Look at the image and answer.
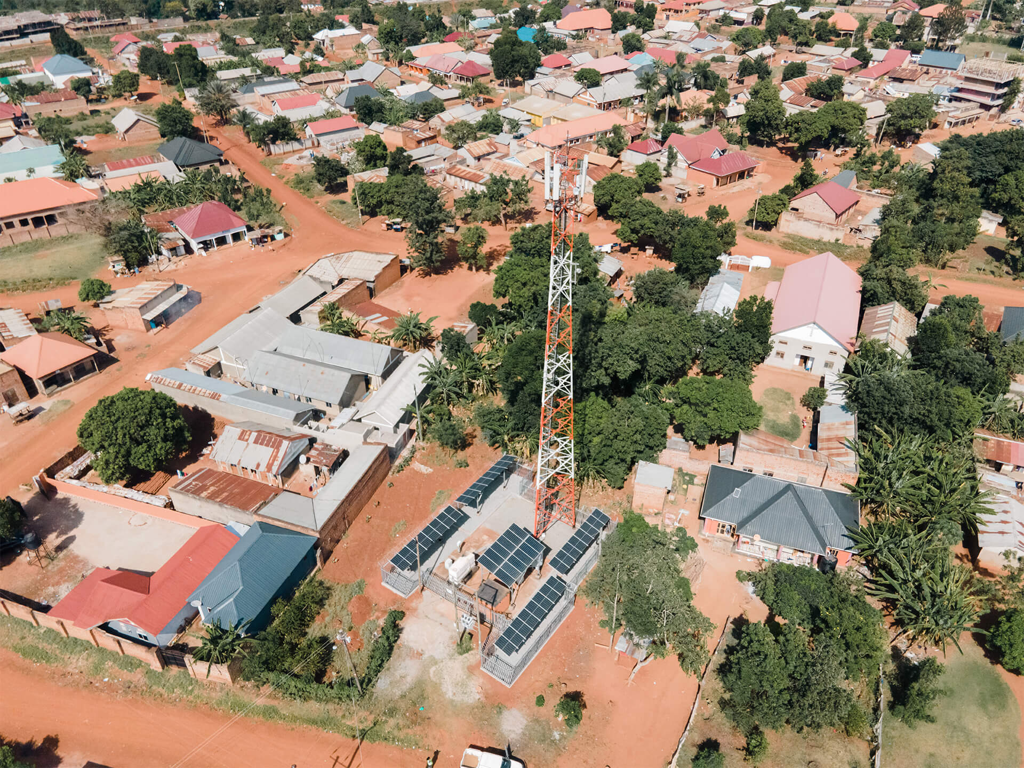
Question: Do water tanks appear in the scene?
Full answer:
Yes, this view includes a water tank.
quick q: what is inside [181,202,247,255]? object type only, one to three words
building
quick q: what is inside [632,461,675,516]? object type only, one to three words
house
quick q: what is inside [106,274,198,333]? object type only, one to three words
building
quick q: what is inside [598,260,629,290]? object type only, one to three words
shed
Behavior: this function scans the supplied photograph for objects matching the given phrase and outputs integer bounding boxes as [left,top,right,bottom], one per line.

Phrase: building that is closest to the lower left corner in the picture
[49,565,142,646]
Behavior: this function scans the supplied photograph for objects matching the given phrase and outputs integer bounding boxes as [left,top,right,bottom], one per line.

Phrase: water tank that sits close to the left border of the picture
[15,527,54,571]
